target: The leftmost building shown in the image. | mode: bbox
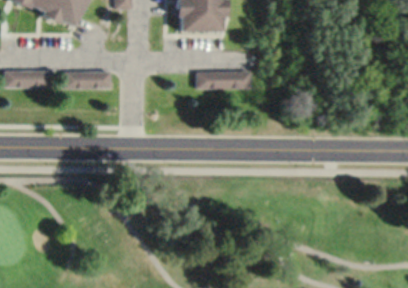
[4,71,46,88]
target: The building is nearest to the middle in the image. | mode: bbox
[195,71,250,90]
